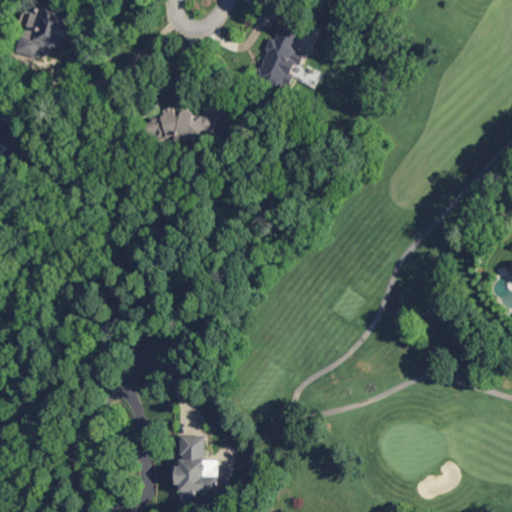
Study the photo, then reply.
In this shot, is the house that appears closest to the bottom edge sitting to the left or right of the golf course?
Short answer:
to its left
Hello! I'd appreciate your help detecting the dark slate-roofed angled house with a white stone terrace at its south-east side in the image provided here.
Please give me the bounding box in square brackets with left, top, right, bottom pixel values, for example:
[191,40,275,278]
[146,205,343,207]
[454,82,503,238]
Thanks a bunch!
[256,26,321,84]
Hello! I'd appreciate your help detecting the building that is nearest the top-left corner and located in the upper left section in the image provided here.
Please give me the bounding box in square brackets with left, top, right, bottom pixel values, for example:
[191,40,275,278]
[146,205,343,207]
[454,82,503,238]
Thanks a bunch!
[15,6,56,56]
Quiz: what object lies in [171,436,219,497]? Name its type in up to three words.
house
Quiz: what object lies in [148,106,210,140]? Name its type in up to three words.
house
